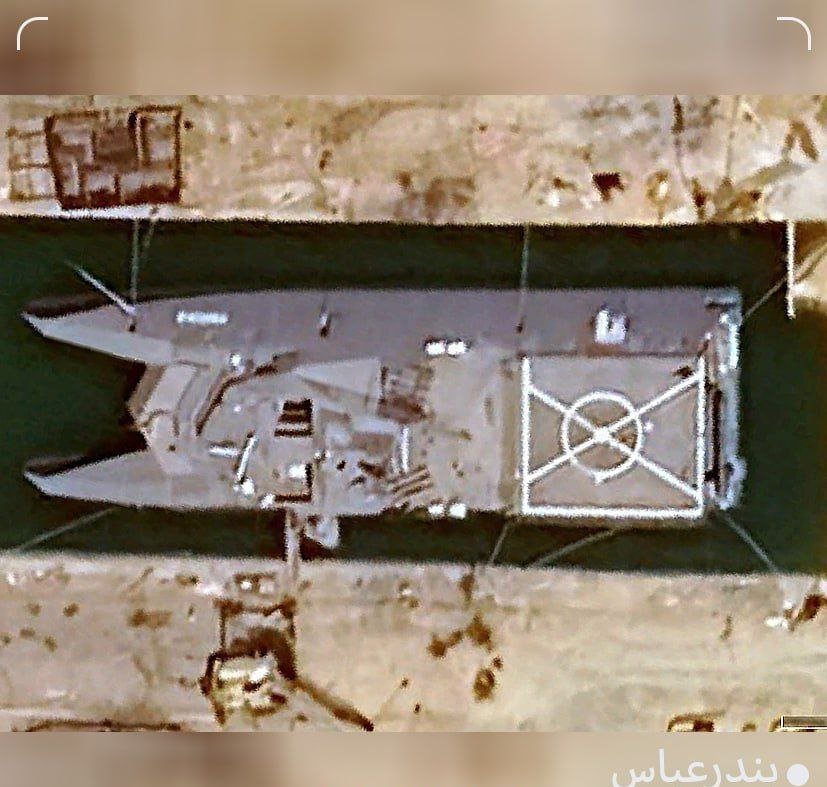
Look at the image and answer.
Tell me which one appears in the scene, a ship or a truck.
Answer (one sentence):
The one in the frame is a ship.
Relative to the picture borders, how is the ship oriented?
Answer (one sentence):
From this overhead view, the ship appears to run from left to right.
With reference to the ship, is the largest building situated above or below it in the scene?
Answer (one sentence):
Relative to the ship, the largest building lies above it.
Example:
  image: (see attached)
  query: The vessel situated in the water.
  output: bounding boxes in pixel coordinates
[23,264,749,552]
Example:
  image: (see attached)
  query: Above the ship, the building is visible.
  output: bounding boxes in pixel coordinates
[43,102,182,215]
